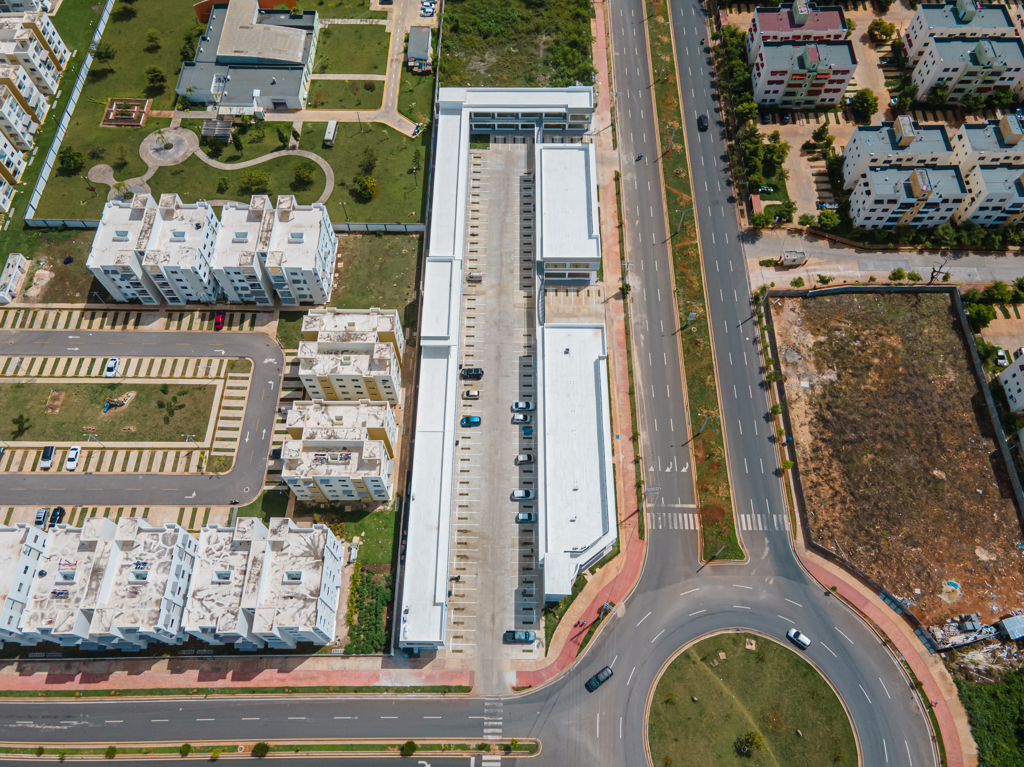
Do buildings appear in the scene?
Yes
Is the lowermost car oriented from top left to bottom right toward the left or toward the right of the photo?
right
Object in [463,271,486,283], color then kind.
gray vehicle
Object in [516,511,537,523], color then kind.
blue vehicle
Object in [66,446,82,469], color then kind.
white car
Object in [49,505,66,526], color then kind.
black car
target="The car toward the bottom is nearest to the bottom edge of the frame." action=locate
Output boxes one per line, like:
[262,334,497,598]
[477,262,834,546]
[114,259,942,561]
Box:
[586,665,612,693]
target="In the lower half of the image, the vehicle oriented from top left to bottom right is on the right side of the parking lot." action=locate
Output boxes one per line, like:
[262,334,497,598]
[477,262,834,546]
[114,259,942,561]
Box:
[784,627,814,652]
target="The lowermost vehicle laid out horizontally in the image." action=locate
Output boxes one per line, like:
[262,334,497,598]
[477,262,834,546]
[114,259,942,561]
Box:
[504,631,534,644]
